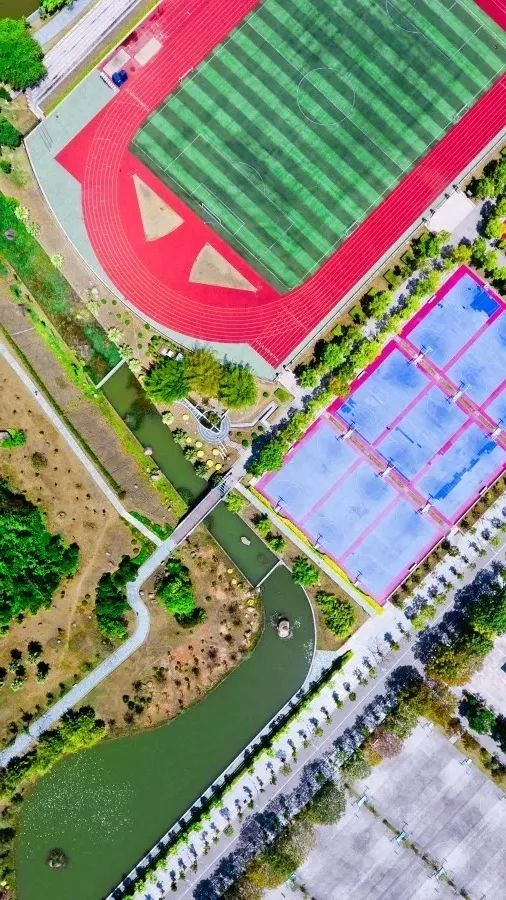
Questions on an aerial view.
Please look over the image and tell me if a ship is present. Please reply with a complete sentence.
No, no ship is visible in the view.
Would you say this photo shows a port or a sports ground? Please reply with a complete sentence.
This image shows a sports ground.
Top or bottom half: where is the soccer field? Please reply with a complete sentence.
Seen from above, the soccer field lies in the top half of the view.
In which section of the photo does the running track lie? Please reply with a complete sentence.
The running track is in the top part of the image.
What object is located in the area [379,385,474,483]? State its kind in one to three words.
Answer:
basketball court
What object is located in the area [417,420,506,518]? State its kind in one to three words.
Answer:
basketball court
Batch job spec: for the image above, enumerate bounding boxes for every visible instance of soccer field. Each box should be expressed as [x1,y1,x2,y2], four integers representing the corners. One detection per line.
[129,0,506,294]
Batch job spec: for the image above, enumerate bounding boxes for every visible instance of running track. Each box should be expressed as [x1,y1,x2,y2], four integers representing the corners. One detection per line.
[57,0,506,367]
